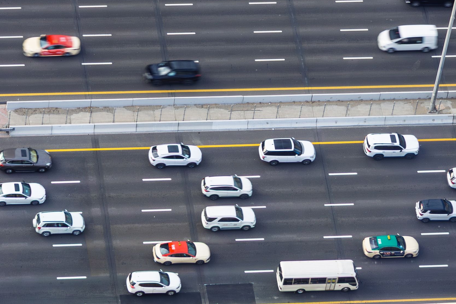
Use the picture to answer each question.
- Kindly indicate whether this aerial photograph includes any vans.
Yes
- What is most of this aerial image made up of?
paved ground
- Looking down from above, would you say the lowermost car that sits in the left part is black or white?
white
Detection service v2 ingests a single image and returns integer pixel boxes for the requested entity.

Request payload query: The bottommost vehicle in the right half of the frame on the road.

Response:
[277,258,360,297]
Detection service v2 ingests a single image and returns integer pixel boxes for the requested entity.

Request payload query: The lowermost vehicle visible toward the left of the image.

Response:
[125,270,182,297]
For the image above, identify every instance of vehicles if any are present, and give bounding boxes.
[362,233,420,259]
[379,25,436,54]
[147,142,203,169]
[406,0,455,7]
[200,174,254,200]
[0,180,46,207]
[31,211,86,238]
[446,167,456,189]
[363,133,420,161]
[415,198,456,223]
[277,258,360,297]
[24,33,79,58]
[0,148,54,174]
[145,60,201,88]
[199,206,257,233]
[125,270,182,297]
[152,239,211,265]
[258,138,316,166]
